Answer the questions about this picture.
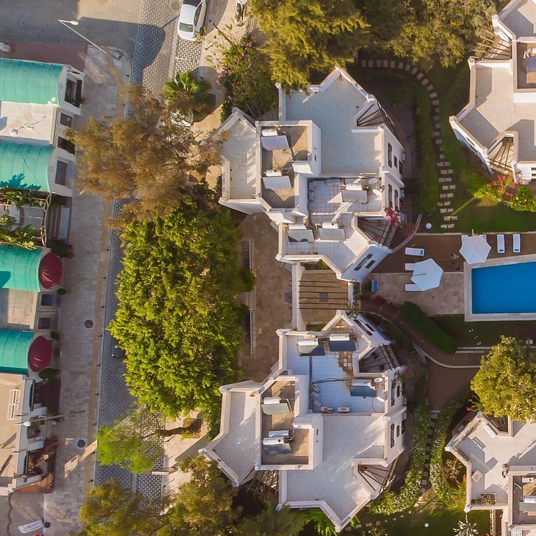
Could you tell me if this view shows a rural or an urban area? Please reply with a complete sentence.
The land in this view is best described as urban.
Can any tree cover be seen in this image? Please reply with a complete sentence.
Yes, tree cover can be seen from above here.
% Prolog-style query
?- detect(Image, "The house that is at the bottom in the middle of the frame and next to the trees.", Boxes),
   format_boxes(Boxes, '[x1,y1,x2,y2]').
[196,309,415,535]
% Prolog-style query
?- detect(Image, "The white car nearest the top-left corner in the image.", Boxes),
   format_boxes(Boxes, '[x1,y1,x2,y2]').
[172,0,204,38]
